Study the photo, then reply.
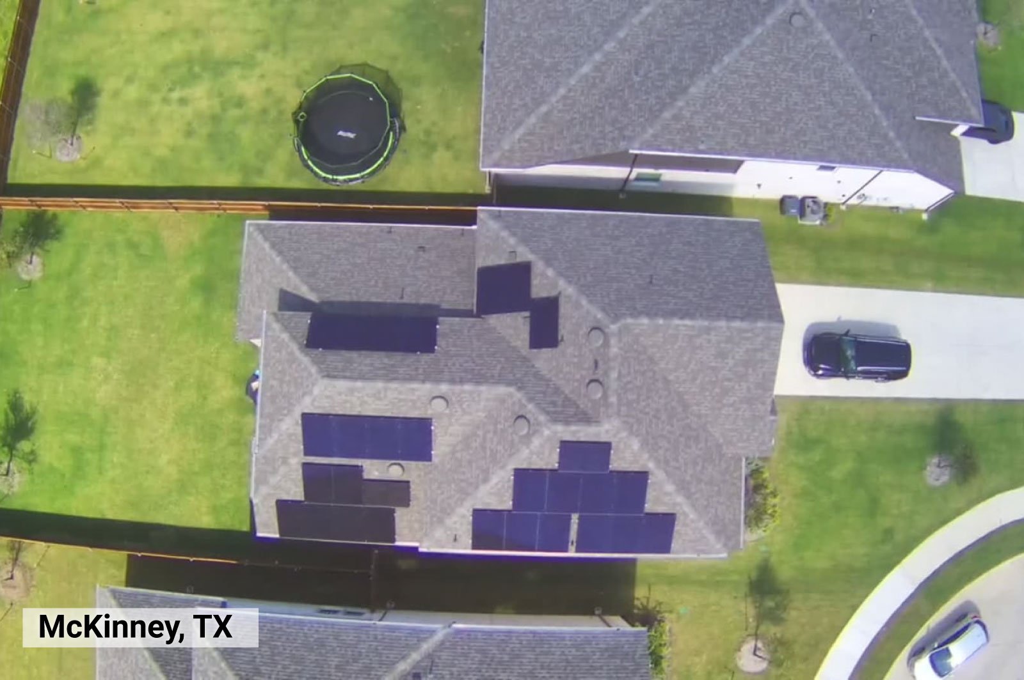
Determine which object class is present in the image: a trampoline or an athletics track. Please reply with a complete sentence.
I can see a trampoline in this picture.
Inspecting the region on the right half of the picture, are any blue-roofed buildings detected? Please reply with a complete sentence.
No, the scene shows no blue-roofed building on the right half of the picture.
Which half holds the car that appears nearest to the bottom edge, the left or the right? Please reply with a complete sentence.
The car that appears nearest to the bottom edge appears in the right half of the scene.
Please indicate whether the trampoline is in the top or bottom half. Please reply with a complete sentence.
The trampoline is in the top half of the image.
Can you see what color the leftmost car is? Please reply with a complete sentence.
The leftmost car looks black in the image.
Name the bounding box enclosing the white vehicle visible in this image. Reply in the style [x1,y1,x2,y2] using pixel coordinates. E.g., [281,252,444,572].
[910,616,988,680]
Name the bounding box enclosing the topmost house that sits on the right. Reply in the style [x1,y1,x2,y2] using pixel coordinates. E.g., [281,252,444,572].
[479,0,985,216]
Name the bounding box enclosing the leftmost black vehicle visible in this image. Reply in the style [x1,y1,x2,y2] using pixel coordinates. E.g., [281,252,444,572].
[803,330,912,381]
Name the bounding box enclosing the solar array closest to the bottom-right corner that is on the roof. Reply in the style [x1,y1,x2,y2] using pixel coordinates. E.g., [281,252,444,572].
[471,441,676,554]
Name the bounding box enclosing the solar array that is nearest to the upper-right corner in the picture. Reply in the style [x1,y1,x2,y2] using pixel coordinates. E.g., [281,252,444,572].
[477,261,560,350]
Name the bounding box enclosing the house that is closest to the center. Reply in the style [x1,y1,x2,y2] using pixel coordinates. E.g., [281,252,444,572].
[235,204,784,556]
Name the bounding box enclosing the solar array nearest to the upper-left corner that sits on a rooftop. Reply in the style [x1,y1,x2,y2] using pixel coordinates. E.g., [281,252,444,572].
[306,318,439,353]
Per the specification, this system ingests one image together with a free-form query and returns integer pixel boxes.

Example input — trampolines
[293,79,401,183]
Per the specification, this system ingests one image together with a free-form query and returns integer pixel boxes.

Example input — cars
[803,330,912,381]
[946,103,1016,147]
[910,616,988,680]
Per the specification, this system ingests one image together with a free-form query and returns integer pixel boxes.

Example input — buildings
[235,204,784,556]
[479,0,985,216]
[94,584,651,680]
